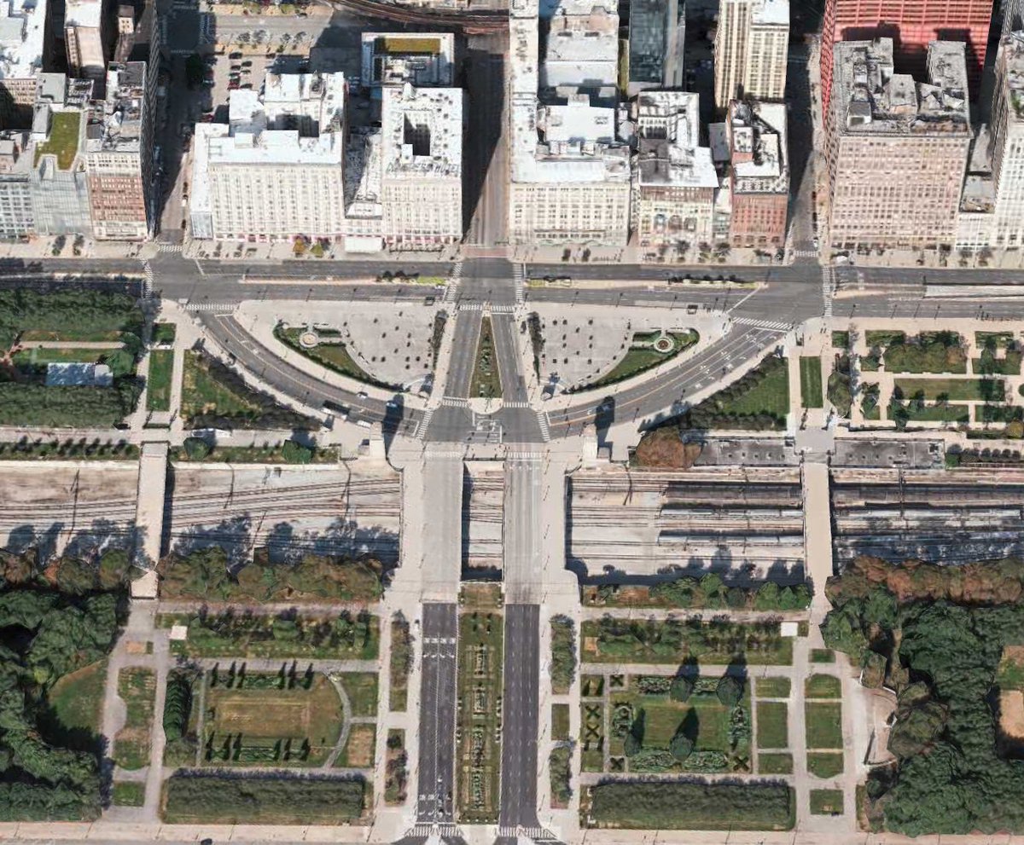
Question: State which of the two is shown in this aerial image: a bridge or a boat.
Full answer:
Looking from above, you can make out a bridge.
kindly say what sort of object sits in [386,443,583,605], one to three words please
bridge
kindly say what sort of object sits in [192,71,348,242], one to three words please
building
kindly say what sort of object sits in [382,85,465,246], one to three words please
building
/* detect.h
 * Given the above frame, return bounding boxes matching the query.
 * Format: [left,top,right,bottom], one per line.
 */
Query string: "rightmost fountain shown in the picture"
[655,336,673,350]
